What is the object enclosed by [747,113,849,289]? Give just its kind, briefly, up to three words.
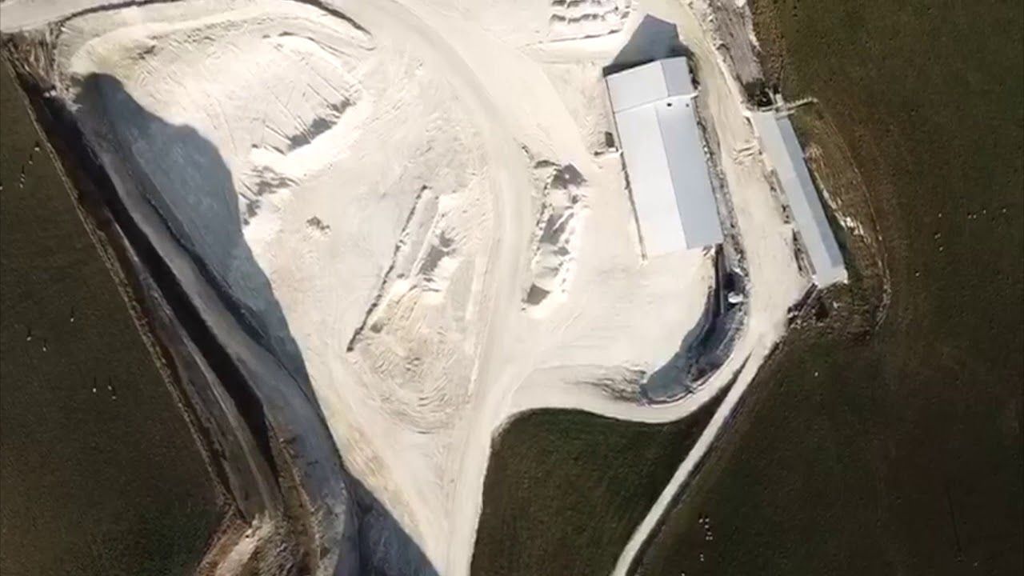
shed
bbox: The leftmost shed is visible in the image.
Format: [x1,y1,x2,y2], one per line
[605,56,723,259]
